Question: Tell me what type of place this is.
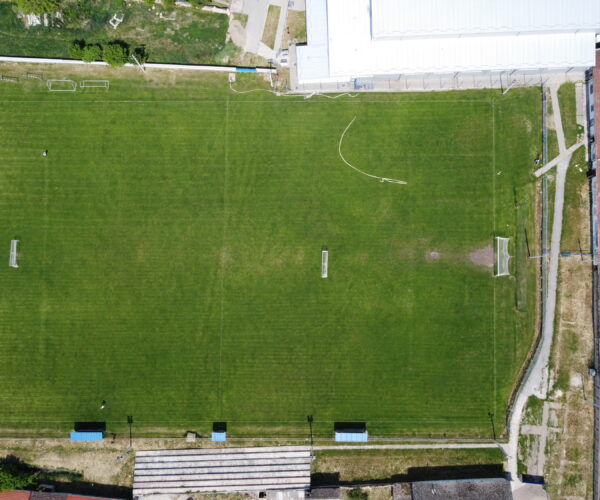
sports ground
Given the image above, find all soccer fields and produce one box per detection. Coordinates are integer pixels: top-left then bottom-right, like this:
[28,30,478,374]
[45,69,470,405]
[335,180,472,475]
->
[0,91,530,432]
